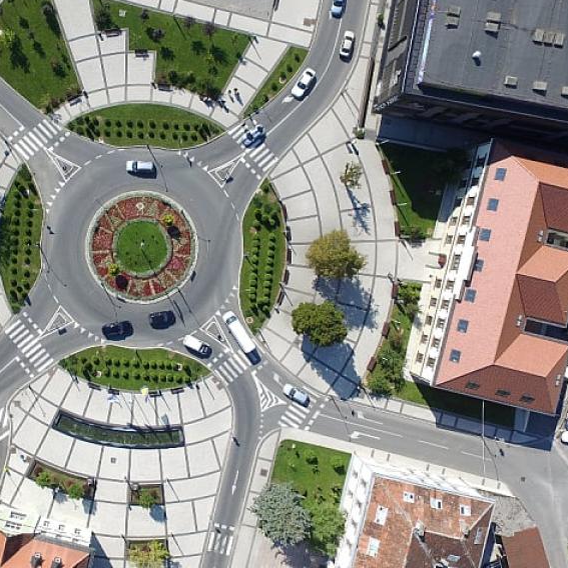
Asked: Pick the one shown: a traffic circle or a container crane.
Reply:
traffic circle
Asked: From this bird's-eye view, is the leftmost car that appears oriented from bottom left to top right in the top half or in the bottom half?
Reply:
top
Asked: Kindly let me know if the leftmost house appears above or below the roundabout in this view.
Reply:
below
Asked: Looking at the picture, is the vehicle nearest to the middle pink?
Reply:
No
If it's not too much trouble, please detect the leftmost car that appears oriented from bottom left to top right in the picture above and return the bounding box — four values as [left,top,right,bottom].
[240,124,267,147]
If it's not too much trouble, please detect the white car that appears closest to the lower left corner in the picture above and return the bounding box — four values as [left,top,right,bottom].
[181,334,210,357]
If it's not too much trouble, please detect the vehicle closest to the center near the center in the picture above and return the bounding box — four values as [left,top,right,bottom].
[219,308,261,358]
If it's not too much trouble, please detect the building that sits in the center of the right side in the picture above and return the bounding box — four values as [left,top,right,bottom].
[404,137,568,417]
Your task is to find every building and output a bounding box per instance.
[404,137,568,417]
[496,524,550,568]
[374,0,568,141]
[0,508,92,568]
[321,455,495,568]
